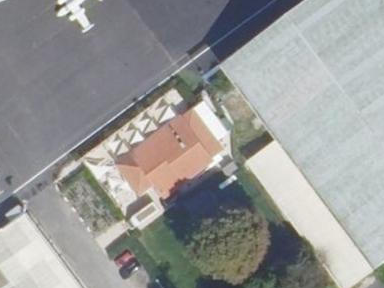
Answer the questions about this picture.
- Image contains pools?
No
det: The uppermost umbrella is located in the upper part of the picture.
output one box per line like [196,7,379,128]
[162,86,183,108]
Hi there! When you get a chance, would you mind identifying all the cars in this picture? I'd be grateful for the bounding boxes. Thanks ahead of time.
[114,252,134,267]
[119,261,140,277]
